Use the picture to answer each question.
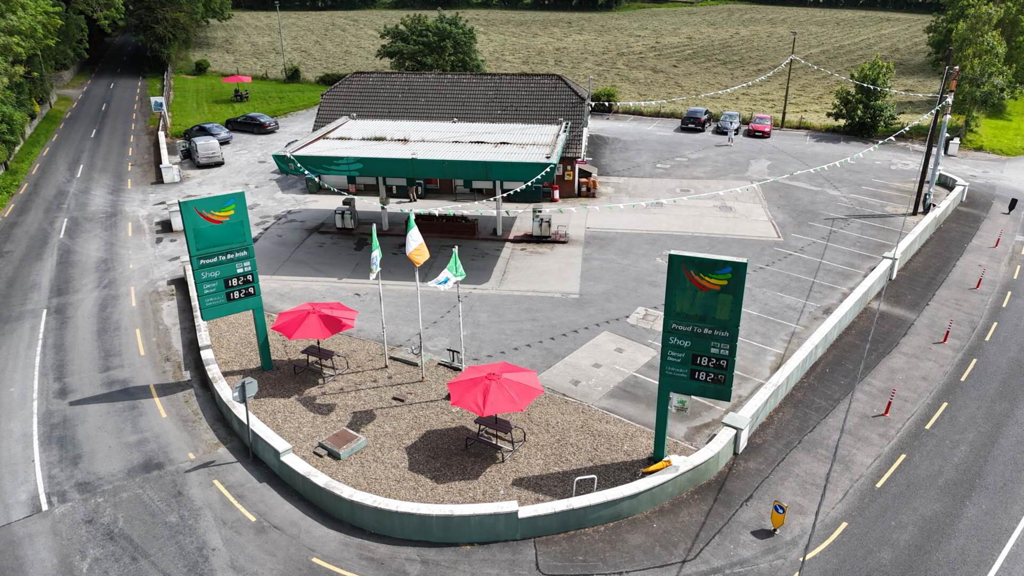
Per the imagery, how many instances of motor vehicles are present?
six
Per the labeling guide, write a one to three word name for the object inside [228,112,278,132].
car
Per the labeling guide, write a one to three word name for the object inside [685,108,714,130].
car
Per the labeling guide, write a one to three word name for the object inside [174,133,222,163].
van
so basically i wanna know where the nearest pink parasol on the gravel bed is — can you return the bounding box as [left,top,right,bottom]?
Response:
[448,368,546,452]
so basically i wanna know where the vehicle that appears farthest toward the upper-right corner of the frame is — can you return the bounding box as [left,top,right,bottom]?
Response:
[749,113,776,137]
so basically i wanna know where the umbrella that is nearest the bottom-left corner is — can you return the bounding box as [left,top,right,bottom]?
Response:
[274,300,359,370]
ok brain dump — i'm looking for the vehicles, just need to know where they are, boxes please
[228,112,278,132]
[174,133,222,163]
[187,121,239,141]
[749,113,776,137]
[685,108,714,130]
[717,110,744,134]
